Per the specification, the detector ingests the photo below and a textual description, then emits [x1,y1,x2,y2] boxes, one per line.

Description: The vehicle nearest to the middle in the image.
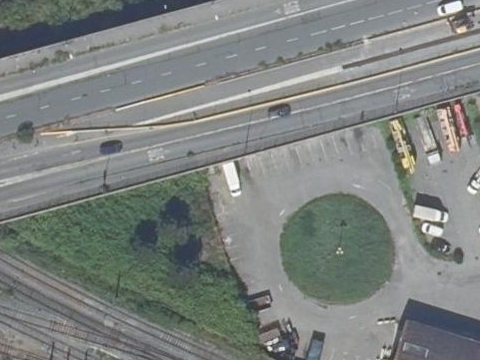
[222,162,243,198]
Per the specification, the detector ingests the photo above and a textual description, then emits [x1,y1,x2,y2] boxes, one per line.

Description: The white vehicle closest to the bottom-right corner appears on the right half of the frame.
[420,223,444,239]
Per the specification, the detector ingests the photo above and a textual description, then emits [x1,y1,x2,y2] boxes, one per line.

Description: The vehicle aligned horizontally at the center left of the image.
[99,142,123,155]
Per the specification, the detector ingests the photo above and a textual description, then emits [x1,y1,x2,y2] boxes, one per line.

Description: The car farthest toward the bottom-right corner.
[430,239,452,253]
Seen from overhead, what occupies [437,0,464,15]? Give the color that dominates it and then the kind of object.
white vehicle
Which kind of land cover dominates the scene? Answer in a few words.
paved ground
